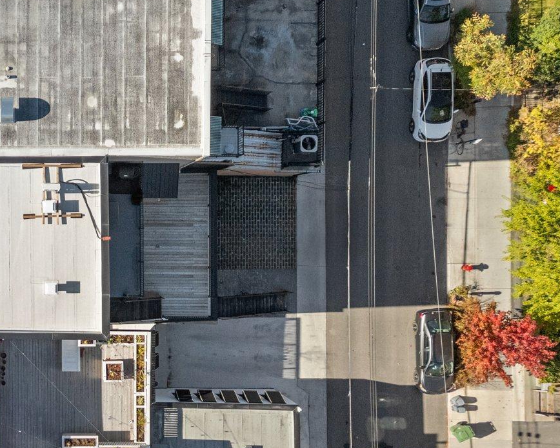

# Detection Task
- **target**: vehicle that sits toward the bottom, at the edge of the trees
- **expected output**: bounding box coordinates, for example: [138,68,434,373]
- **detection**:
[413,309,458,393]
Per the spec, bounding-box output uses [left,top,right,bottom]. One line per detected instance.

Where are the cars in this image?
[409,0,457,50]
[413,309,458,393]
[410,60,457,142]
